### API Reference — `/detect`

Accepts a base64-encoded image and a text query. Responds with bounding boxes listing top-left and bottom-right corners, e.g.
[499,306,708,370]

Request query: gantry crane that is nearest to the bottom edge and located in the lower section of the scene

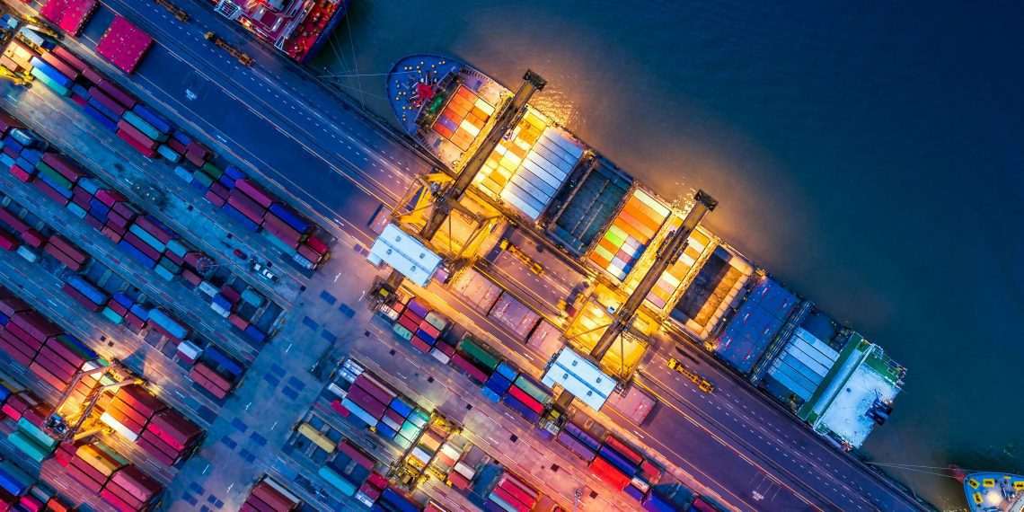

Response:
[388,408,467,500]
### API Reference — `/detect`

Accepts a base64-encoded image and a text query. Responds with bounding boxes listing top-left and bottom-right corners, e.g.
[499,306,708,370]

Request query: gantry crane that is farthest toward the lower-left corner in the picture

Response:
[38,355,142,446]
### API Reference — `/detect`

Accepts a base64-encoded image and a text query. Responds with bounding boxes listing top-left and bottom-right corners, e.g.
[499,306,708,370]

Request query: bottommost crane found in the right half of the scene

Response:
[540,191,718,423]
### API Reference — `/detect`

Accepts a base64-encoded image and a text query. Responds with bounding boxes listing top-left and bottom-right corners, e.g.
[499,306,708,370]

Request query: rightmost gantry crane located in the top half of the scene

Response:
[370,70,547,305]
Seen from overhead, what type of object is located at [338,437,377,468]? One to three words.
shipping container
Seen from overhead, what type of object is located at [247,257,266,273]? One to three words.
vehicle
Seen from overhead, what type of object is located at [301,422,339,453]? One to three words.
shipping container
